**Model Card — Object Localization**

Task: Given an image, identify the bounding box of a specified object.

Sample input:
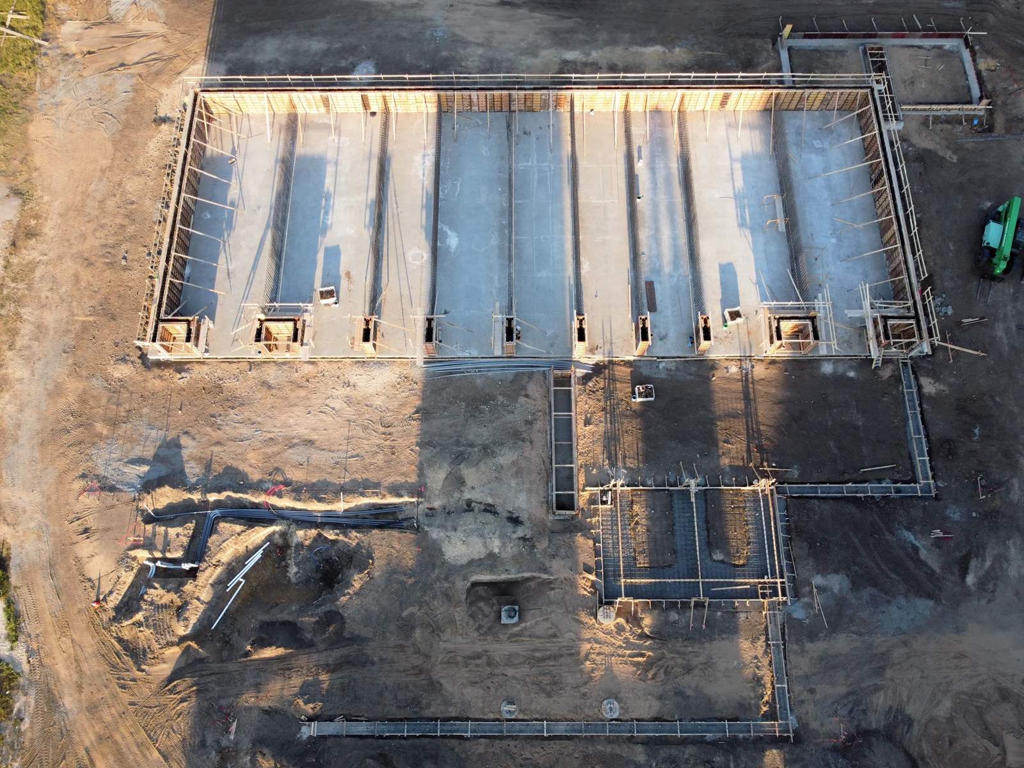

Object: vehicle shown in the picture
[971,197,1024,297]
